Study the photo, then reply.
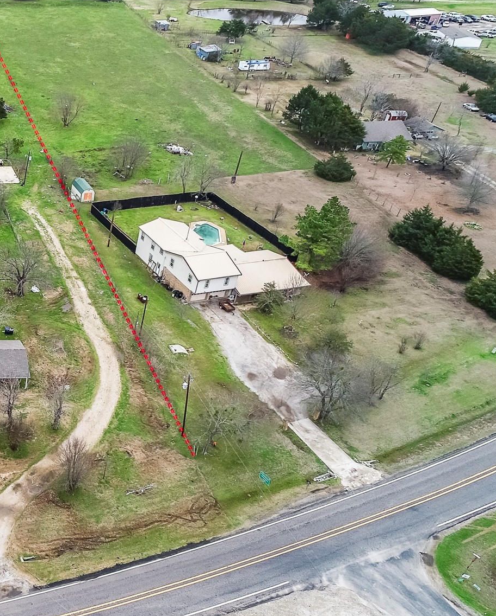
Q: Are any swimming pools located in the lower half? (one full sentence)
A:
No, no swimming pool is visible in the lower half.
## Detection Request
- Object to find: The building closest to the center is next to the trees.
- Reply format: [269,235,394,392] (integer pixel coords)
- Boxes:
[136,218,308,304]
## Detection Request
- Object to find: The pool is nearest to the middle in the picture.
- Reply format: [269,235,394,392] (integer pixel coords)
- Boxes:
[188,219,230,246]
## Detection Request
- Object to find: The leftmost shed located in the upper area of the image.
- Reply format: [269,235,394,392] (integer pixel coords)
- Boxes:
[72,177,97,201]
